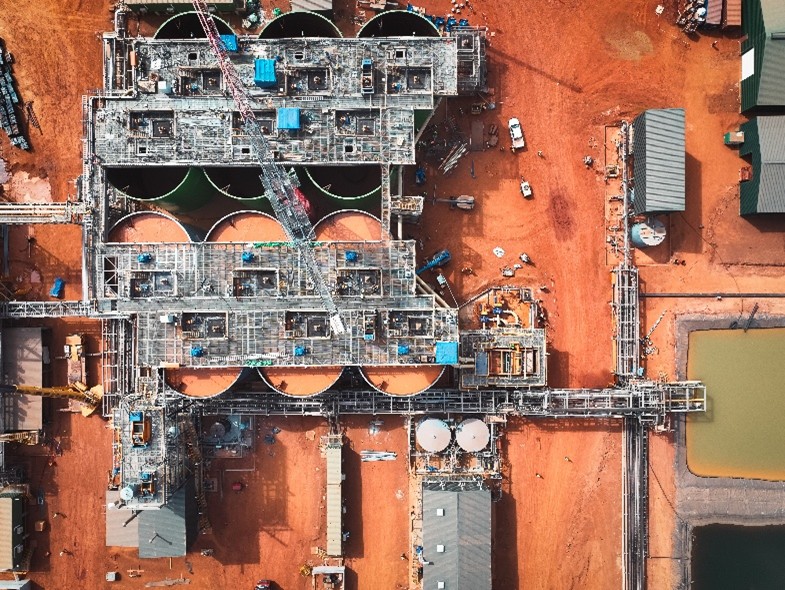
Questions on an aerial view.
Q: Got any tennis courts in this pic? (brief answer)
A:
No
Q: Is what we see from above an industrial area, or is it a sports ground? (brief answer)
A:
industrial area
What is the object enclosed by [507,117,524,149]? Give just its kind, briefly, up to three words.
vehicle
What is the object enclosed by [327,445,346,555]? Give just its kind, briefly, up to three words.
building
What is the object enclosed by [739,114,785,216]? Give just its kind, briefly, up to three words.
building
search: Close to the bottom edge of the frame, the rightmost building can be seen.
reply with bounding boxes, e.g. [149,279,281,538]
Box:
[419,476,491,590]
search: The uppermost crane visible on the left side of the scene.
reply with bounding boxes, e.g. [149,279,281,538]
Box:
[184,0,347,336]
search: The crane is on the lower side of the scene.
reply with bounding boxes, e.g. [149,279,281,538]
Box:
[0,337,109,417]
